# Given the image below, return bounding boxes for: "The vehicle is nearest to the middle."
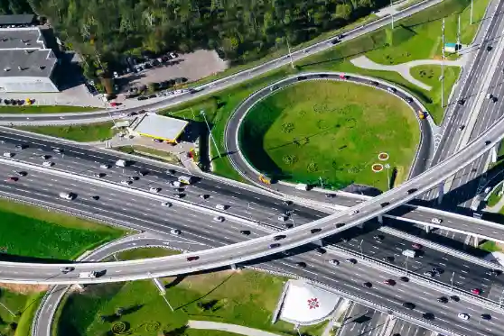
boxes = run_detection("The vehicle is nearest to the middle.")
[255,172,273,185]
